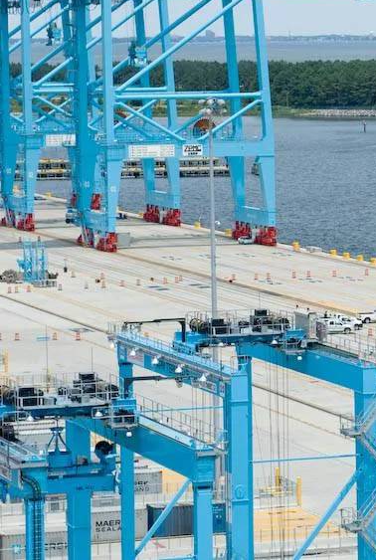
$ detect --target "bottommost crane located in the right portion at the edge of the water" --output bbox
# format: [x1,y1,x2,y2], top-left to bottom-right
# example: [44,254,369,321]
[83,263,376,560]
